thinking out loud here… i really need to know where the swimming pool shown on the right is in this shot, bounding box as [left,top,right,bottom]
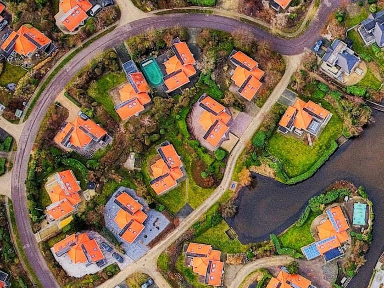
[352,202,366,226]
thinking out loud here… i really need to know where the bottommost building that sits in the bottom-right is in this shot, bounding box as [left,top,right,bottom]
[261,265,316,288]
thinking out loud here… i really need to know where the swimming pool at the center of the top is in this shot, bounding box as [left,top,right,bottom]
[140,57,164,88]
